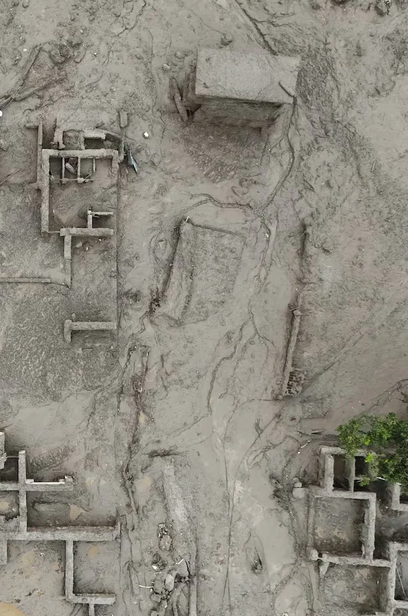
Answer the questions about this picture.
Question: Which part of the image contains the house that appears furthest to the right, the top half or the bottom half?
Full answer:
It is in the bottom half that the house that appears furthest to the right appears.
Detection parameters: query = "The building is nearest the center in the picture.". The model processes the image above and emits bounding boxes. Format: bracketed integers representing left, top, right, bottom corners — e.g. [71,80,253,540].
[63,320,116,342]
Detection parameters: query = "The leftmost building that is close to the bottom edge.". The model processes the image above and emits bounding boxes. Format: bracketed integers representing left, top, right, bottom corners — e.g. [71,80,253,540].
[0,447,119,616]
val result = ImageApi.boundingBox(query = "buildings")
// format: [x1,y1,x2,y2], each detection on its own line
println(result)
[0,447,119,616]
[302,444,408,616]
[63,320,116,342]
[180,47,301,132]
[0,123,125,288]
